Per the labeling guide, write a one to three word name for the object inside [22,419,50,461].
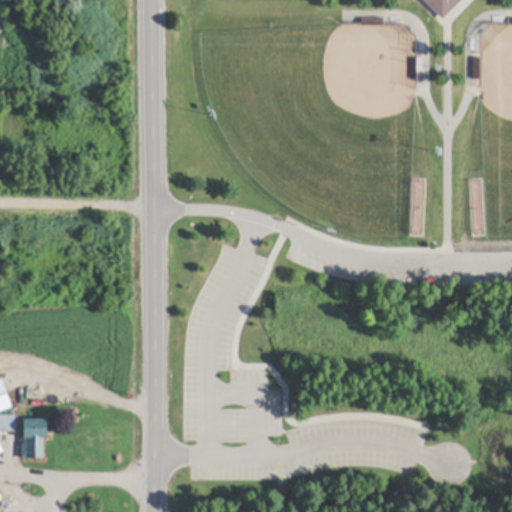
house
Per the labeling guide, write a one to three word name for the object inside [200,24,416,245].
baseball field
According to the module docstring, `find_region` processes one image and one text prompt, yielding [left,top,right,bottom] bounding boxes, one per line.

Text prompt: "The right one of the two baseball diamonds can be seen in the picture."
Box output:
[482,24,512,240]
